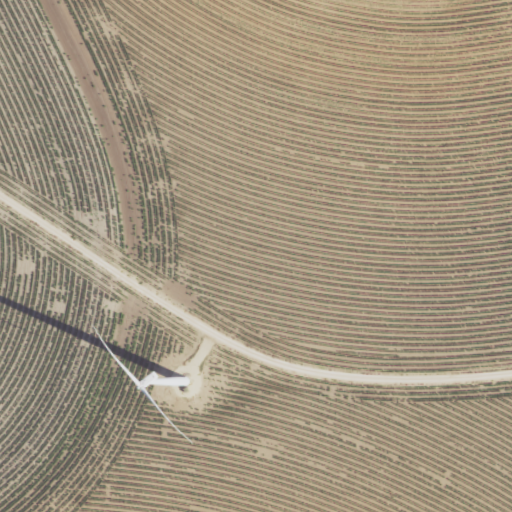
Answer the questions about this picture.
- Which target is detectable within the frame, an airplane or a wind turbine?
wind turbine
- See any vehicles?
No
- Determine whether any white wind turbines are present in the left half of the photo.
Yes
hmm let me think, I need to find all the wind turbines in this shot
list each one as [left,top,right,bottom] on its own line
[92,325,192,442]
